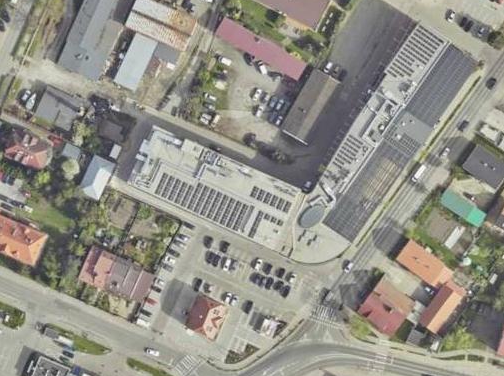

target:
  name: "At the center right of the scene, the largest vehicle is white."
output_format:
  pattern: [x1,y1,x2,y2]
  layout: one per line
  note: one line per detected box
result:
[412,162,427,183]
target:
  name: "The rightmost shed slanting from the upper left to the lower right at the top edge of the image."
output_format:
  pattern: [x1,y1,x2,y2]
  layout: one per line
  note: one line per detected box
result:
[215,17,307,81]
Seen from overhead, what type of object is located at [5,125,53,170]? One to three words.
house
